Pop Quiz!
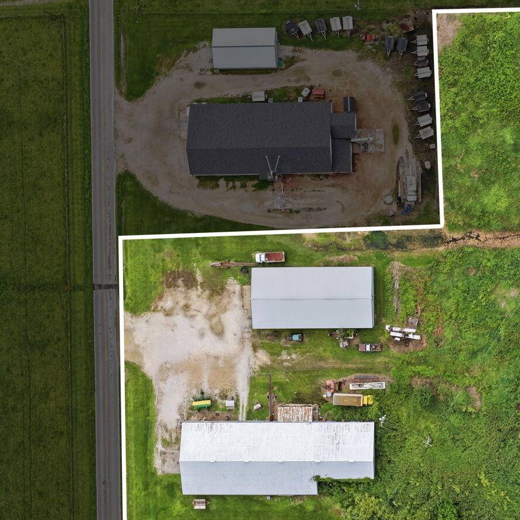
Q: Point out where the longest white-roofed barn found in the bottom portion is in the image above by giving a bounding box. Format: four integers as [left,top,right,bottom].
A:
[178,420,374,496]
